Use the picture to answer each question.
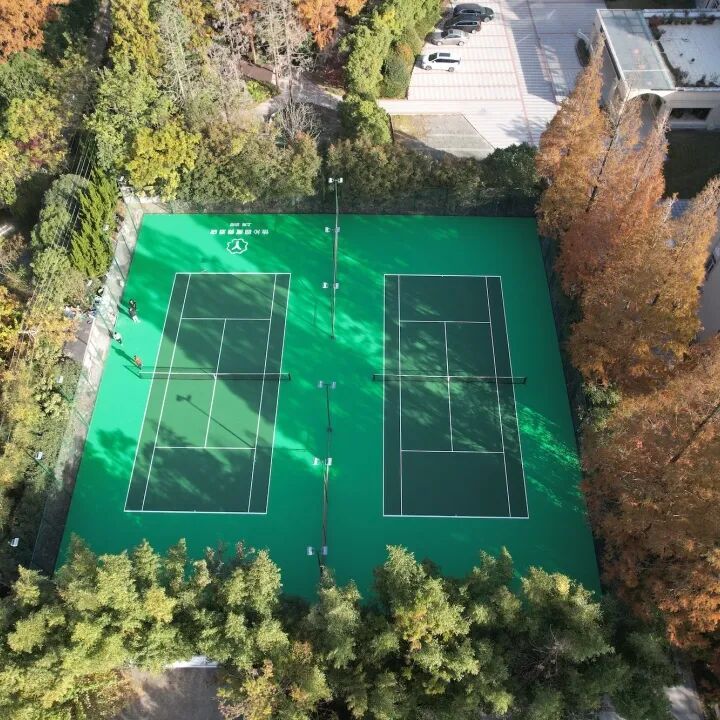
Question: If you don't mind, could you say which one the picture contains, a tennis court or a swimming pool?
tennis court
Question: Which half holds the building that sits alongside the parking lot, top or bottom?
top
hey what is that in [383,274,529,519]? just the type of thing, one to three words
tennis court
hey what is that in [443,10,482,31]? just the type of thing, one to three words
car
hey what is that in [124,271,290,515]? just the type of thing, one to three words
tennis court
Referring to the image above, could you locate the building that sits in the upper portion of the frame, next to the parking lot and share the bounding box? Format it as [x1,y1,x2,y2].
[586,8,720,129]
